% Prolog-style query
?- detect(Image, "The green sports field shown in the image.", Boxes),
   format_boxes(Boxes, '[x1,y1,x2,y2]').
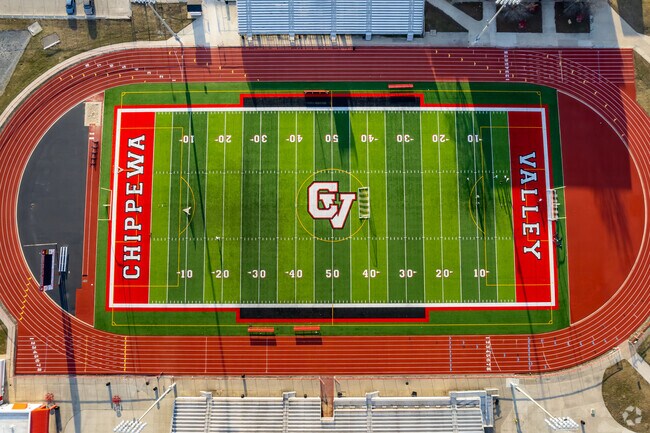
[93,83,572,334]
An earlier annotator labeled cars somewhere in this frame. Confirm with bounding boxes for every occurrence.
[64,0,76,14]
[81,0,93,14]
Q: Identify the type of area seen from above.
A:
sports ground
